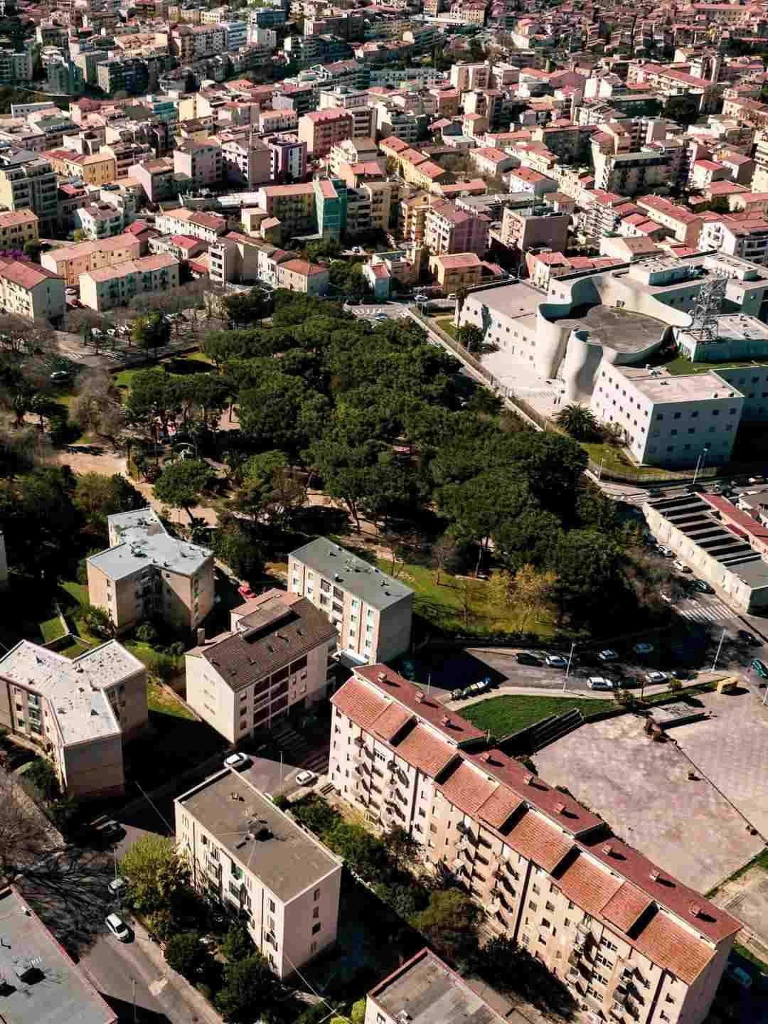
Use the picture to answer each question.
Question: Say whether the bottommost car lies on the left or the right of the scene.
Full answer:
The bottommost car sits on the right side.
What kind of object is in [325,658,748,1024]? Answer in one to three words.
building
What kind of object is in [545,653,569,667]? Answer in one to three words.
car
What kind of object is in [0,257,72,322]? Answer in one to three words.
house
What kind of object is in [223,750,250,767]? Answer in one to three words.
car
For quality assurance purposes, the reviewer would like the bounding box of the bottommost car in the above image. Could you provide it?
[728,958,758,990]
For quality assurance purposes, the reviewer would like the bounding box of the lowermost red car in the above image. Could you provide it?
[231,582,250,596]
